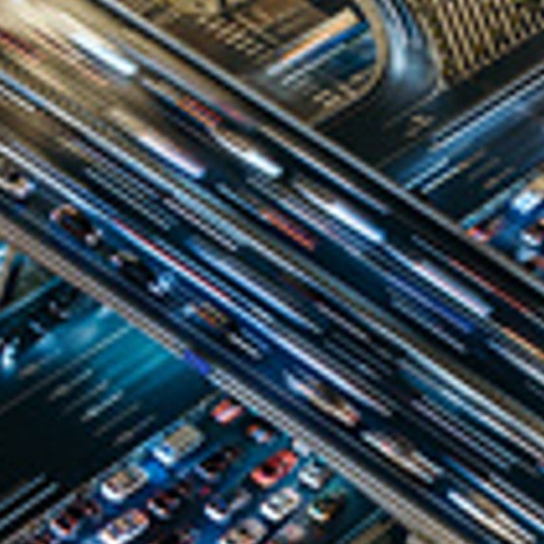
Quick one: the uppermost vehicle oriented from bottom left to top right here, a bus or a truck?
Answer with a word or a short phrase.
bus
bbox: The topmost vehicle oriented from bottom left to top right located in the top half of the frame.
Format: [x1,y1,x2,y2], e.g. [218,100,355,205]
[275,3,360,77]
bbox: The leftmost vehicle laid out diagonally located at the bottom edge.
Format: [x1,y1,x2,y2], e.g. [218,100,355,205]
[48,495,98,537]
